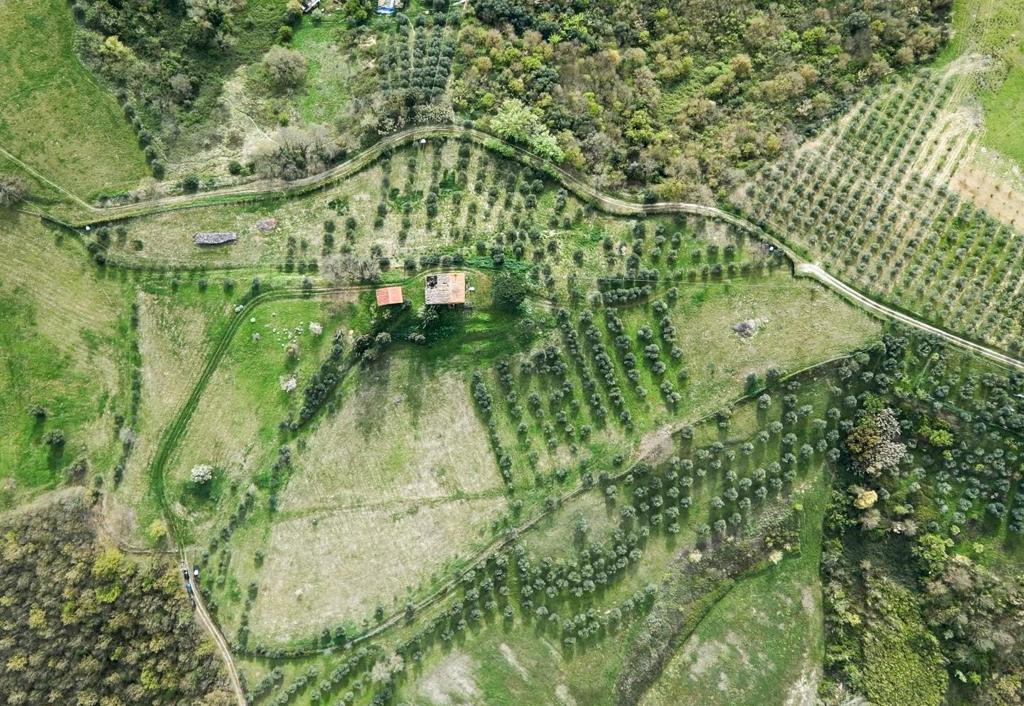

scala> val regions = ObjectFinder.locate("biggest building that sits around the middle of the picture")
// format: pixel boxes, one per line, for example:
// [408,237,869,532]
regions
[425,271,466,305]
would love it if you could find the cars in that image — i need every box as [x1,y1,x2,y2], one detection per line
[191,597,199,609]
[187,582,195,595]
[183,568,191,580]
